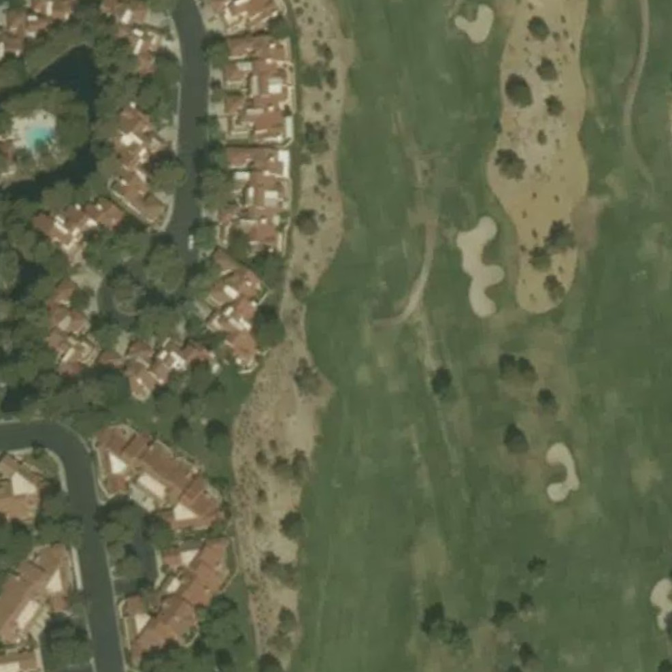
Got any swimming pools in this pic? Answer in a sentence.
Yes, you can see a swimming pool in this photo.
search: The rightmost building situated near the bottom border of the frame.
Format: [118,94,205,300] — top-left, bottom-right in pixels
[119,528,238,667]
